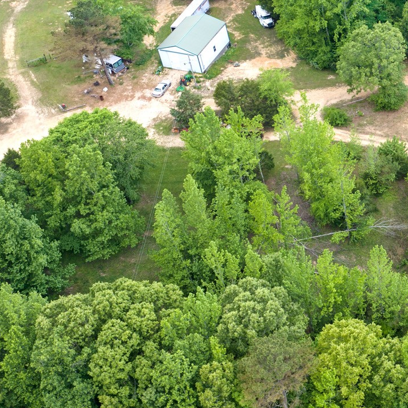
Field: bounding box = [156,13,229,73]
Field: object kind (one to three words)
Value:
barn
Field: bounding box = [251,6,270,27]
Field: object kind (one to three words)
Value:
vehicle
